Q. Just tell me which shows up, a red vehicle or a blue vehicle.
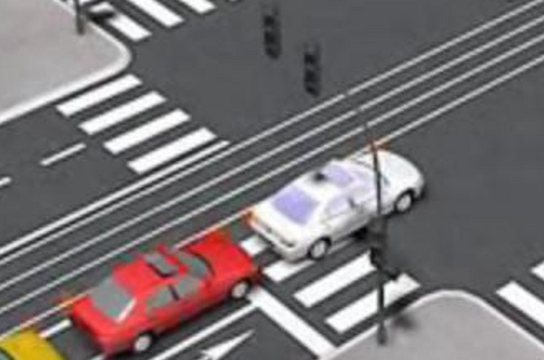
red vehicle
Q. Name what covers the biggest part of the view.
paved ground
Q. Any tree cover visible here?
No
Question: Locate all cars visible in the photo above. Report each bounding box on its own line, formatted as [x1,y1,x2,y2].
[249,154,424,262]
[69,234,261,357]
[0,329,67,360]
